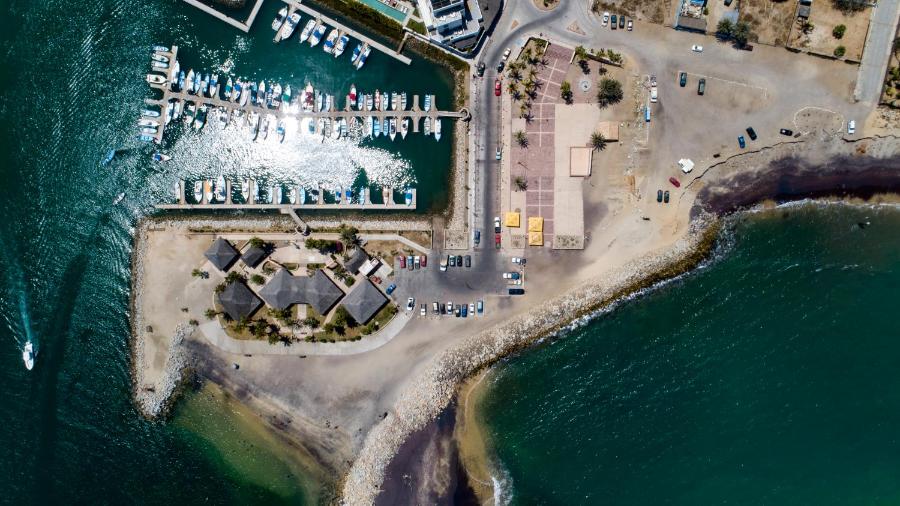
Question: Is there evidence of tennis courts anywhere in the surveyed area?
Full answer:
No, no tennis court is visible in the scene.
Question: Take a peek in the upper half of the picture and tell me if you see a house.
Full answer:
Yes, the scene does show a house in the upper half of the picture.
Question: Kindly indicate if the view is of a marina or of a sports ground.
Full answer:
What you see here is a marina.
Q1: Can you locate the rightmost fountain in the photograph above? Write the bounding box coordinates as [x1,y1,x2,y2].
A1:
[576,76,594,95]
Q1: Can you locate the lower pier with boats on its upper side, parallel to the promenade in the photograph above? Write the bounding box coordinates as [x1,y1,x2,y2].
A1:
[156,180,418,226]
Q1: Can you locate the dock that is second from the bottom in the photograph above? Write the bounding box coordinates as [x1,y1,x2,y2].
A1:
[148,47,461,143]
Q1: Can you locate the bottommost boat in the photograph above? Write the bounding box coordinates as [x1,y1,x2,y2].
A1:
[17,338,33,370]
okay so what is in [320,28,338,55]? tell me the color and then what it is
white boat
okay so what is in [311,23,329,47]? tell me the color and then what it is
white boat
